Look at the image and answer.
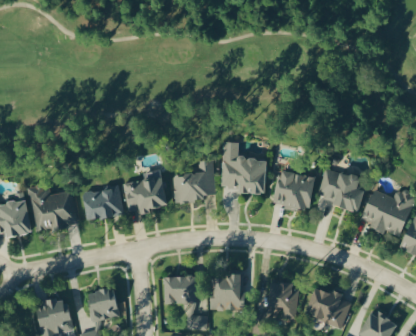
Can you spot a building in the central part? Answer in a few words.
Yes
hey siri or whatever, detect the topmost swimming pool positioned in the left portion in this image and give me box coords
[135,152,162,174]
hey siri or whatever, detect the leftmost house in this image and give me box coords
[0,197,32,236]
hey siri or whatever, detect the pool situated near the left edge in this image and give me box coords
[0,178,20,200]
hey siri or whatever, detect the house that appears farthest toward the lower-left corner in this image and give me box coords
[37,299,76,336]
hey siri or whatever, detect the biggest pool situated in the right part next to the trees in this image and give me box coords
[379,176,401,196]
